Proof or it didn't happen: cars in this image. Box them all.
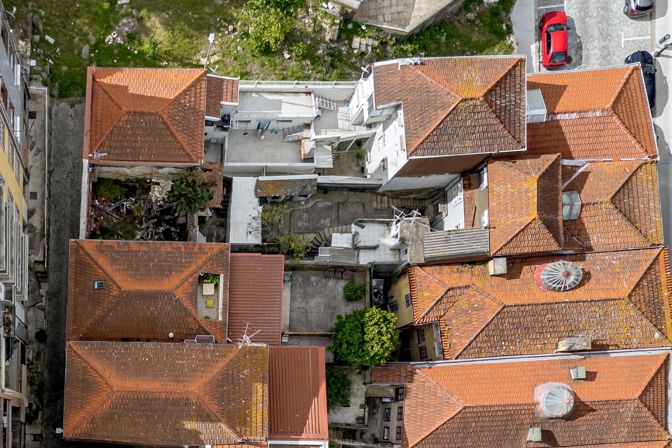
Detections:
[538,16,569,70]
[622,0,656,23]
[626,56,659,115]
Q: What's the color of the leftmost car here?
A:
red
